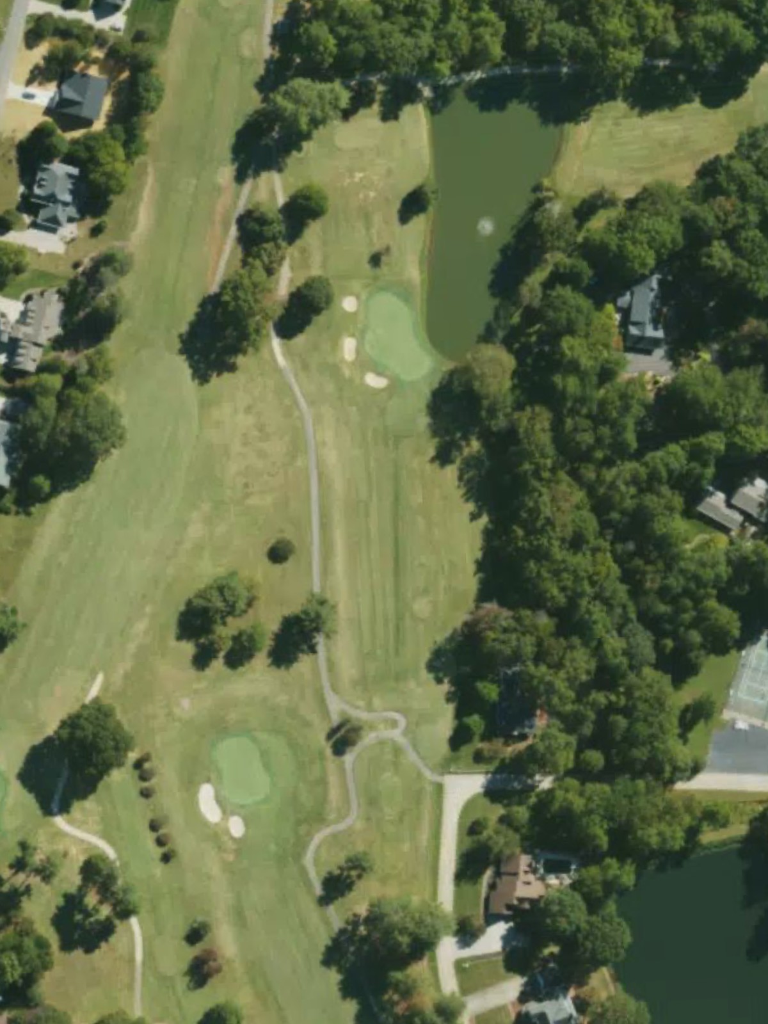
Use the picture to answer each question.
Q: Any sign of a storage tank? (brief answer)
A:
No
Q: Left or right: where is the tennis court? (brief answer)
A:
right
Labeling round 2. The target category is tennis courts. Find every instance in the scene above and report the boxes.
[720,617,768,718]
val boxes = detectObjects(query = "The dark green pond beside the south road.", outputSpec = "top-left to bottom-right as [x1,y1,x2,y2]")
[615,835,768,1024]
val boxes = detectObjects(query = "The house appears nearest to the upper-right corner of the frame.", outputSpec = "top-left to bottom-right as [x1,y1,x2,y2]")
[614,270,669,350]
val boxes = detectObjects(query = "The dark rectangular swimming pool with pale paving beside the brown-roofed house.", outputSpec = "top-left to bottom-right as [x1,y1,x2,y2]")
[538,853,576,879]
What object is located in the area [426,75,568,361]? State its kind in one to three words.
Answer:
pond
